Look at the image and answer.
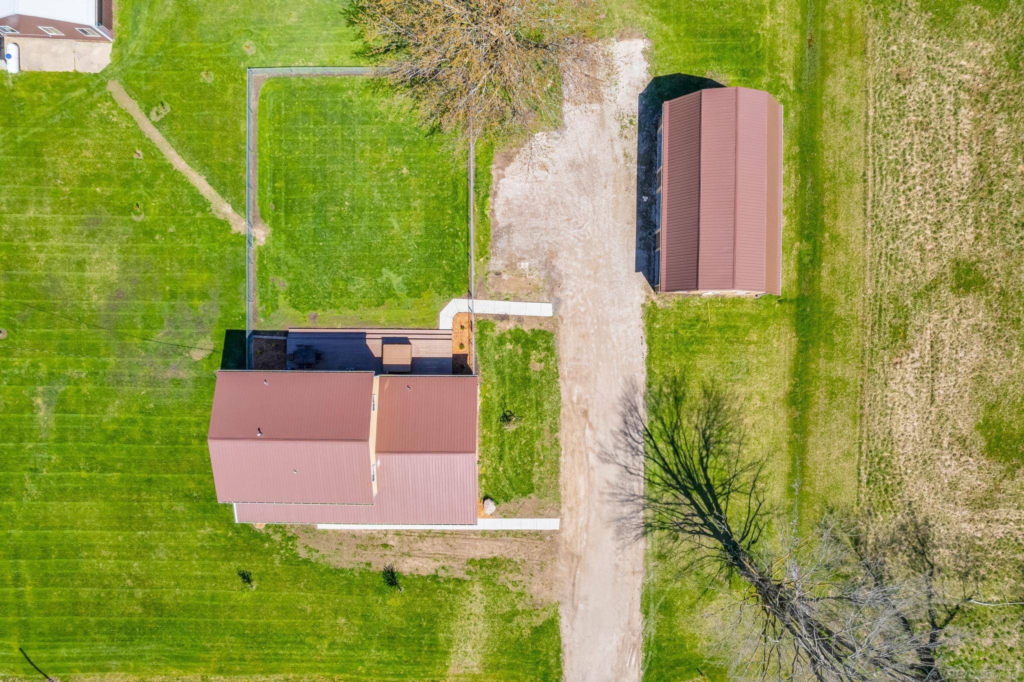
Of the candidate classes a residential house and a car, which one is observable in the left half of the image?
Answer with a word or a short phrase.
residential house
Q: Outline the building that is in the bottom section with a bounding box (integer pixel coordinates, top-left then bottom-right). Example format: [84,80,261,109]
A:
[207,367,479,527]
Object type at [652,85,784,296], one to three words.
barn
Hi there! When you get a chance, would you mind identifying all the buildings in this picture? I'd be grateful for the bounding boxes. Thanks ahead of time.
[652,85,784,296]
[0,0,113,41]
[207,367,479,527]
